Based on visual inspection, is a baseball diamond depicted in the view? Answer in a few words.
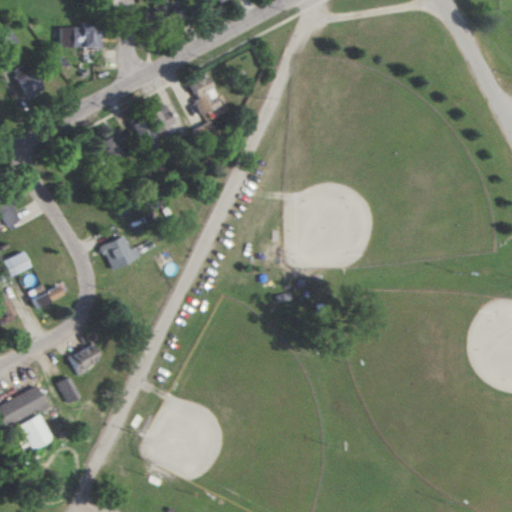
Yes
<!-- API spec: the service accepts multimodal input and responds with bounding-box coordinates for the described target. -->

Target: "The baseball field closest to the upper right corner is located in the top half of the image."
[282,55,496,270]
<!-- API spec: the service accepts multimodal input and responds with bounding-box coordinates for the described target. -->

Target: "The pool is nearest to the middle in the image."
[164,261,179,276]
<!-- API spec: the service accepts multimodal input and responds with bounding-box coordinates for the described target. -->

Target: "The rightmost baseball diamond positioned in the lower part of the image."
[346,288,512,512]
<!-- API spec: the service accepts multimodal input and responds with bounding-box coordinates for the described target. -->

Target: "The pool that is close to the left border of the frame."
[22,272,38,288]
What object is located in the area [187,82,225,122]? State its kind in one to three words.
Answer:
house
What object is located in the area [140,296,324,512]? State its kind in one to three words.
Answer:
baseball field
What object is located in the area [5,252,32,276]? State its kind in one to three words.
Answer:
building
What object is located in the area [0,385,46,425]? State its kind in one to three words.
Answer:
house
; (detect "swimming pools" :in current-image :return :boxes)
[164,261,179,276]
[22,272,38,288]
